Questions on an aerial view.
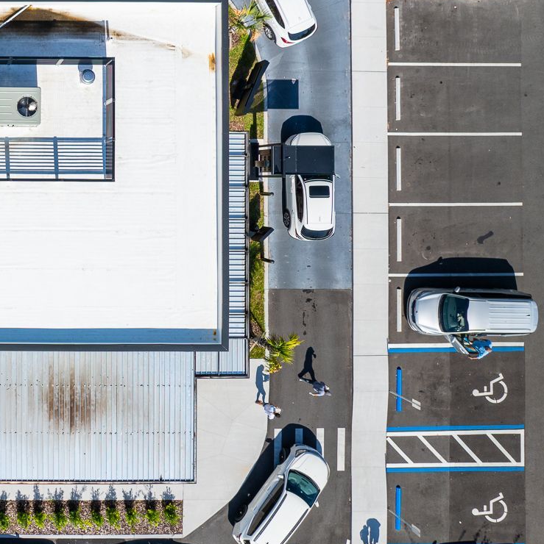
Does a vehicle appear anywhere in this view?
Yes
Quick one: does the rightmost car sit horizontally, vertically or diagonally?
horizontally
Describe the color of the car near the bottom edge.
white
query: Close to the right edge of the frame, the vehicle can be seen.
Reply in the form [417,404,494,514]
[403,285,539,355]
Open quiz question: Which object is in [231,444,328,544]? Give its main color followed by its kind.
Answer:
white car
